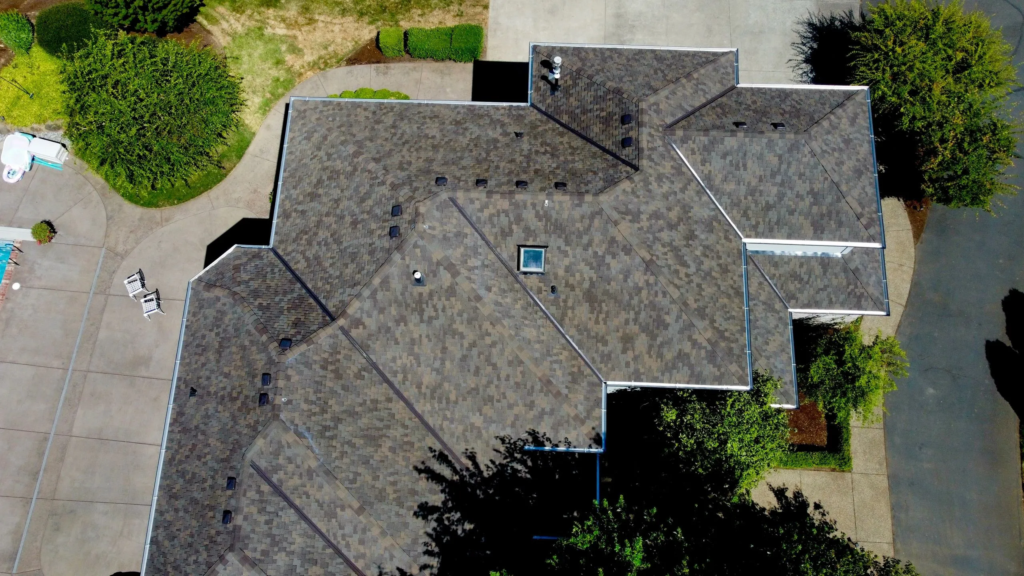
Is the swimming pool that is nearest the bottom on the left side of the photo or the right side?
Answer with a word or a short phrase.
left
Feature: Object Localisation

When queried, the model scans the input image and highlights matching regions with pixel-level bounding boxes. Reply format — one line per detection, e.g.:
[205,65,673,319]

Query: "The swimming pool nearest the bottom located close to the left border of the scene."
[0,239,23,307]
